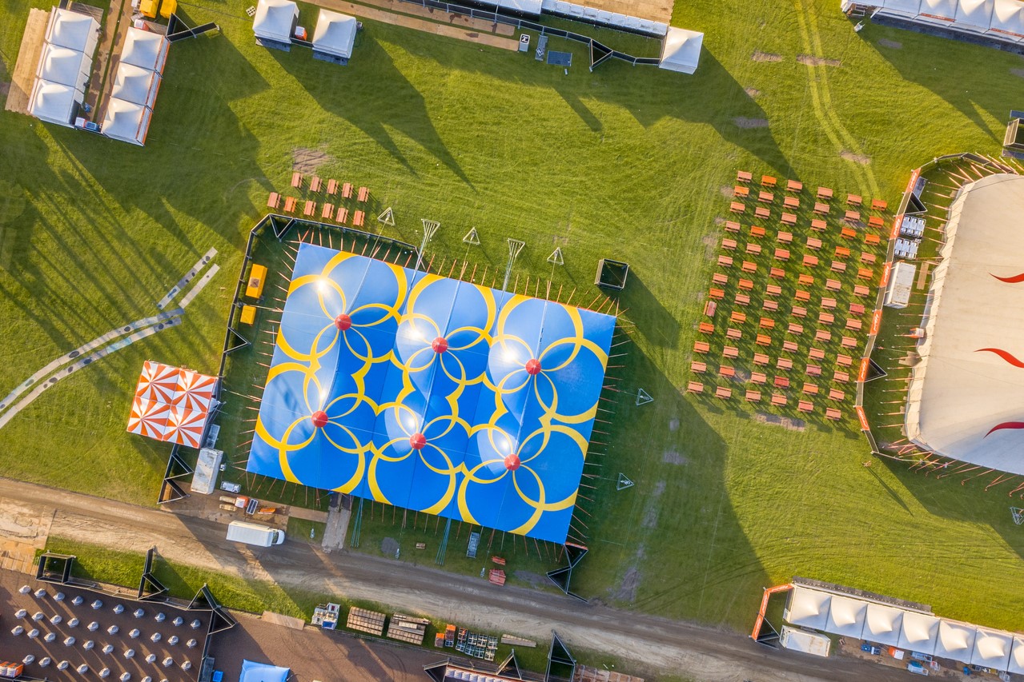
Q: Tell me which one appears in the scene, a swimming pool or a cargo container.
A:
cargo container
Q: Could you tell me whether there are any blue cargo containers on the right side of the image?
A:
No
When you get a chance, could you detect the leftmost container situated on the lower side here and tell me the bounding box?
[191,446,225,494]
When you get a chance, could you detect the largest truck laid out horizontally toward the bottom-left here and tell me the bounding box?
[227,520,296,547]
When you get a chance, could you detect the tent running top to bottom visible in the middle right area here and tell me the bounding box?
[877,151,1024,499]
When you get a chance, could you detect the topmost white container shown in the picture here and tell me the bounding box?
[884,262,916,306]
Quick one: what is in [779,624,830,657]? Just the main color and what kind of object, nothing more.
white shipping container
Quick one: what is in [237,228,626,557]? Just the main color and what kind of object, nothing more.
blue tent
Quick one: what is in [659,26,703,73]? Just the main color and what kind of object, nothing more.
white tent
